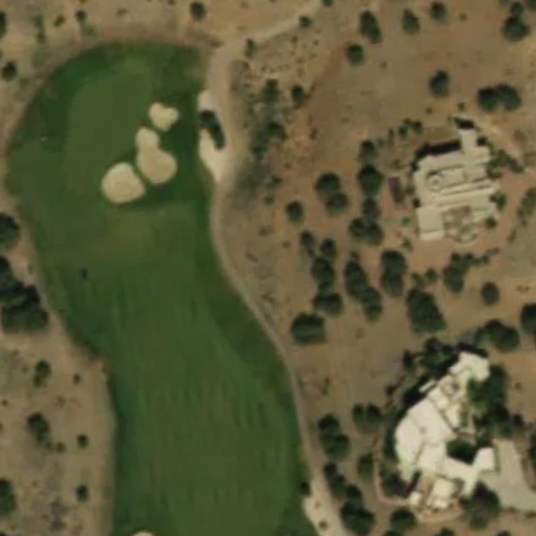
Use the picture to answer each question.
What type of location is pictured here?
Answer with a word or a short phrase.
golf course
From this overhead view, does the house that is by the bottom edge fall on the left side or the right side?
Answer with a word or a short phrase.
right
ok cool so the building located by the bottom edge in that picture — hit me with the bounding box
[395,352,494,517]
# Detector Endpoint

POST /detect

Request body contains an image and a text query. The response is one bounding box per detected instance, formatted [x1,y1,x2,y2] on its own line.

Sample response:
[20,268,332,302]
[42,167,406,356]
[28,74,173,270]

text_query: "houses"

[395,352,494,517]
[413,128,499,244]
